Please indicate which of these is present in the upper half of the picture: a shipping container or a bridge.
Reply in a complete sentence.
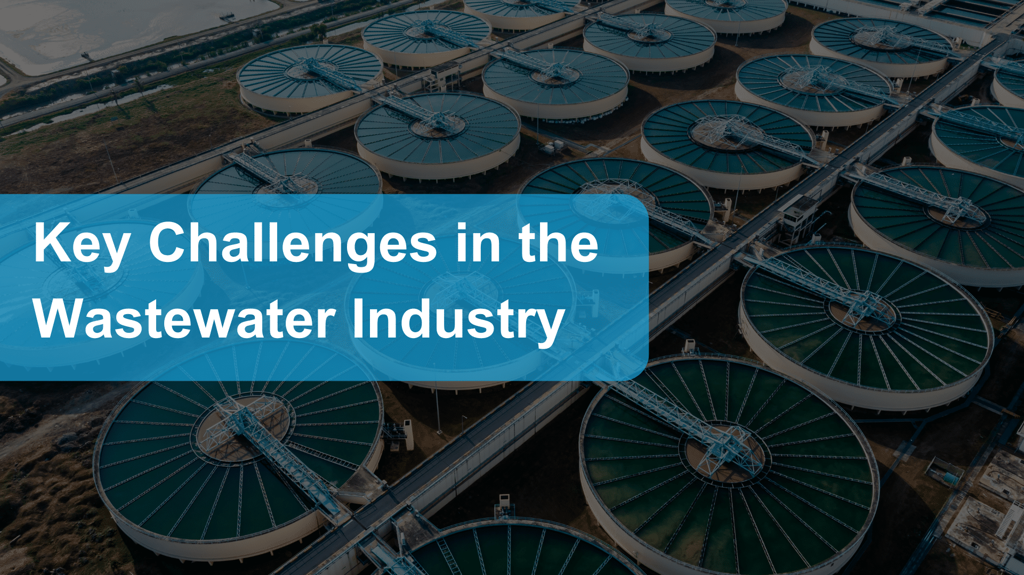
What appears in the upper half of the picture is a bridge.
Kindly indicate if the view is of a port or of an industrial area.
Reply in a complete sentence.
It's an industrial area.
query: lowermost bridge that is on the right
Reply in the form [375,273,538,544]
[594,375,722,448]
